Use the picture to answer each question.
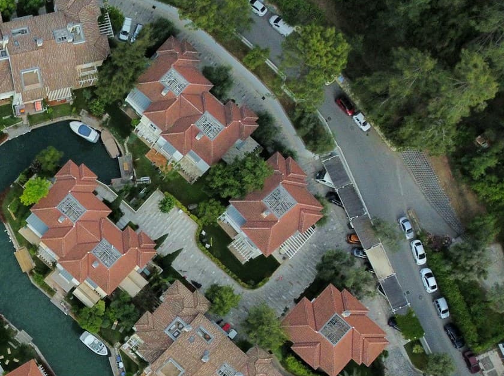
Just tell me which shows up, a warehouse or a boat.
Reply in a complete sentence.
I can see a boat in this picture.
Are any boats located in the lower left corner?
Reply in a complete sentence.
Yes, there is a boat in the lower left corner.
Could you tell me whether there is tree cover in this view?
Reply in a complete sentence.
Yes, some tree cover is visible.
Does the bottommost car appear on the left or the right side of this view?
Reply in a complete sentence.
The bottommost car appears in the right half of the scene.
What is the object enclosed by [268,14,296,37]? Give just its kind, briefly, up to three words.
vehicle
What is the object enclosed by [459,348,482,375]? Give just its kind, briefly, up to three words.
car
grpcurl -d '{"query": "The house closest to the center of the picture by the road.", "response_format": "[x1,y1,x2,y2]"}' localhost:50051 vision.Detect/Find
[217,150,325,258]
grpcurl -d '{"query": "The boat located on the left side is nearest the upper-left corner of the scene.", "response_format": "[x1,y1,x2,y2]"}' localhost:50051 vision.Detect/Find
[69,123,101,146]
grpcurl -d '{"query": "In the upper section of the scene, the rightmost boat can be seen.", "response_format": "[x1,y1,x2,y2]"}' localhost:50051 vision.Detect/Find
[98,132,119,159]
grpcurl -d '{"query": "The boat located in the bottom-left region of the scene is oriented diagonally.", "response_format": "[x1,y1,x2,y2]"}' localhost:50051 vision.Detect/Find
[76,331,107,353]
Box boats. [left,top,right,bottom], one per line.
[98,132,119,159]
[76,331,107,353]
[69,123,101,146]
